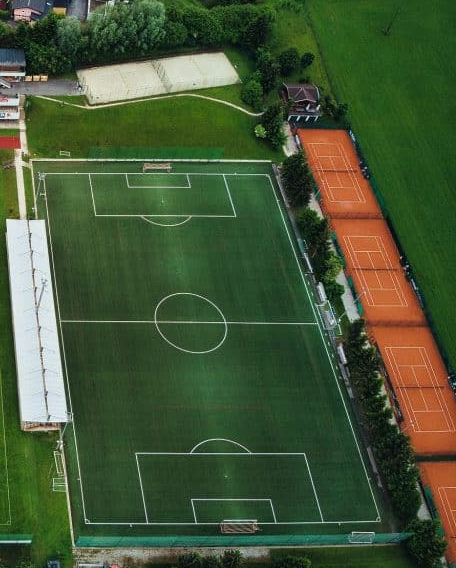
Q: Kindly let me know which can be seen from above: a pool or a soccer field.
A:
soccer field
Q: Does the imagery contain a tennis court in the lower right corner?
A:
Yes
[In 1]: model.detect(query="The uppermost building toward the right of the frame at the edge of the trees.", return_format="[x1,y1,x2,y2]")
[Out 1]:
[280,86,322,120]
